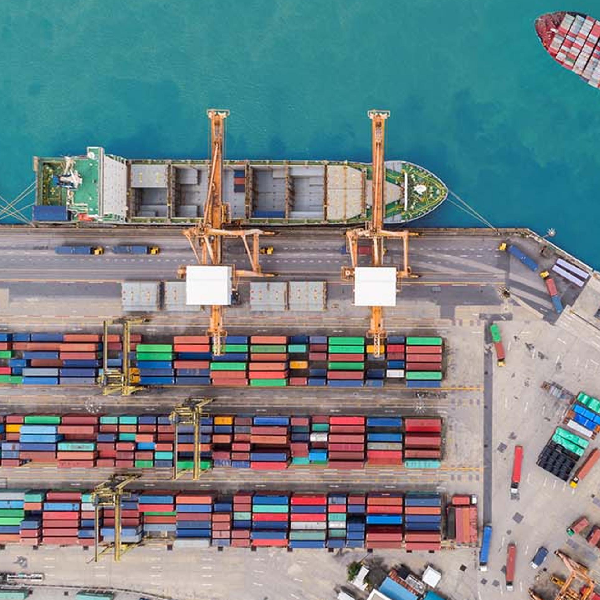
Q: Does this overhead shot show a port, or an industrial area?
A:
port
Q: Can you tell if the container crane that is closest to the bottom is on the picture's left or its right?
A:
right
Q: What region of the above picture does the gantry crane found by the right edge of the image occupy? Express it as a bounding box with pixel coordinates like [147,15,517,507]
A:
[522,544,600,600]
